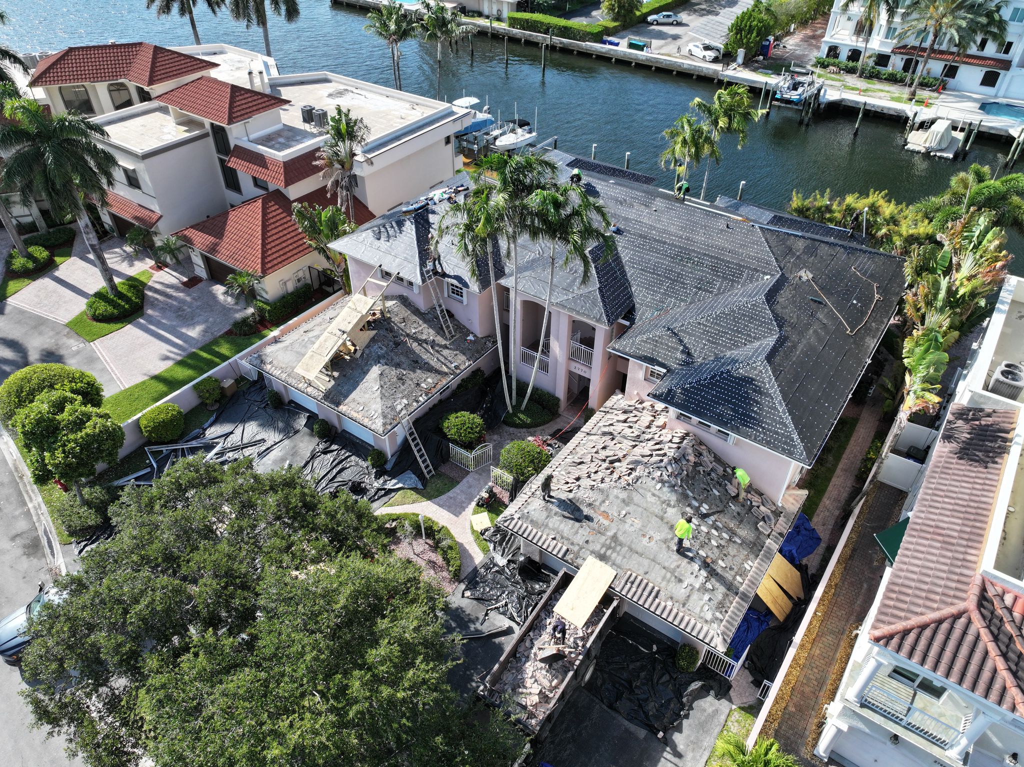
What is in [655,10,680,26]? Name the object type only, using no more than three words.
car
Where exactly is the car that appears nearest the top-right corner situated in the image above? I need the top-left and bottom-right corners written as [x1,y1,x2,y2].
[688,40,722,57]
